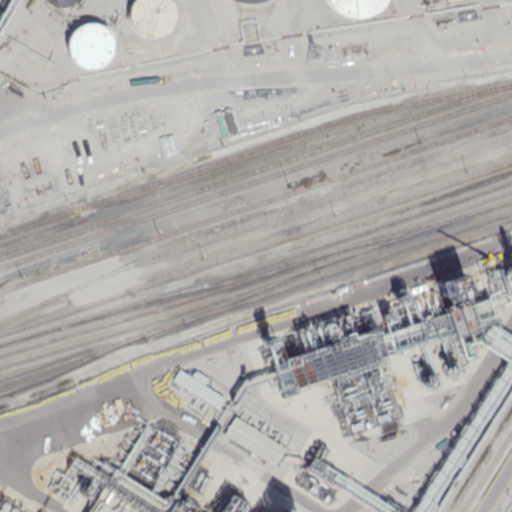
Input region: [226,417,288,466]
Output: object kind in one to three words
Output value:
building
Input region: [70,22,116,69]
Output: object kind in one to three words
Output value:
storage tank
